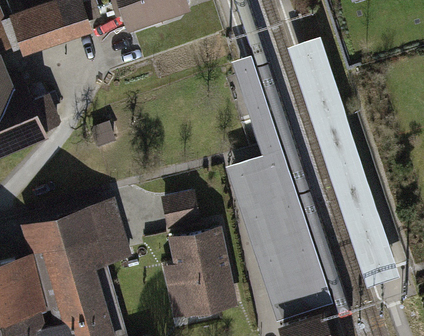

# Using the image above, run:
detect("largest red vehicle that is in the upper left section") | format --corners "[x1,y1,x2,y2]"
[94,18,126,36]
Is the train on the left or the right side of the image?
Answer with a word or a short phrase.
right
